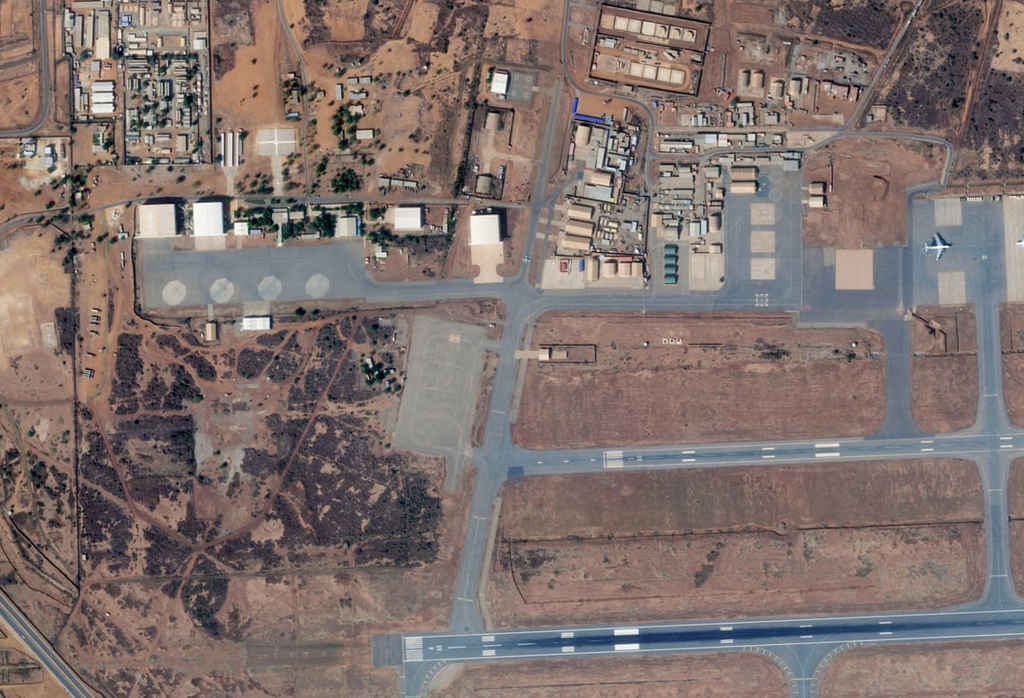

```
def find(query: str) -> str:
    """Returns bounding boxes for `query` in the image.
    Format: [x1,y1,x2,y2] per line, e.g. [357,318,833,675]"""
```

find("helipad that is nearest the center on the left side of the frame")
[305,275,329,299]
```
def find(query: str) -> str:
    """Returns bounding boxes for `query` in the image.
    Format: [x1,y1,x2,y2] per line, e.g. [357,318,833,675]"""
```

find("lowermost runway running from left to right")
[371,606,1024,666]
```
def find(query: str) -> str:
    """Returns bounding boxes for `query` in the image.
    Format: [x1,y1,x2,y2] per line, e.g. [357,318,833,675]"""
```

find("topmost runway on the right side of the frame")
[503,429,1024,476]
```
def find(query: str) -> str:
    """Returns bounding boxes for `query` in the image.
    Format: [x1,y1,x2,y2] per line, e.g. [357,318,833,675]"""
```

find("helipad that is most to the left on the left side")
[162,280,187,304]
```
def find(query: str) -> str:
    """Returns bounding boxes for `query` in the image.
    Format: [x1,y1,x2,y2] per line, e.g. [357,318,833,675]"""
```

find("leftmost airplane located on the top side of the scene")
[925,233,949,261]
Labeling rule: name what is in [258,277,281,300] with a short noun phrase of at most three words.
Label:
helipad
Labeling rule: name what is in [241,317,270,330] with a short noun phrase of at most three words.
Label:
building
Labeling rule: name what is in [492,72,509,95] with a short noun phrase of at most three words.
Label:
building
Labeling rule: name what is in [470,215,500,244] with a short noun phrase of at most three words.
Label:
hangar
